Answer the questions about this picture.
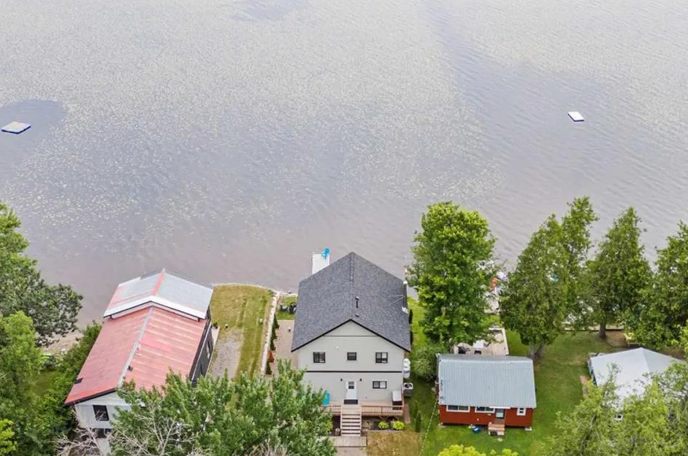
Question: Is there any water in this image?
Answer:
Yes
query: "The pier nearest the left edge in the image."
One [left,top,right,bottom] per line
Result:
[311,249,331,275]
